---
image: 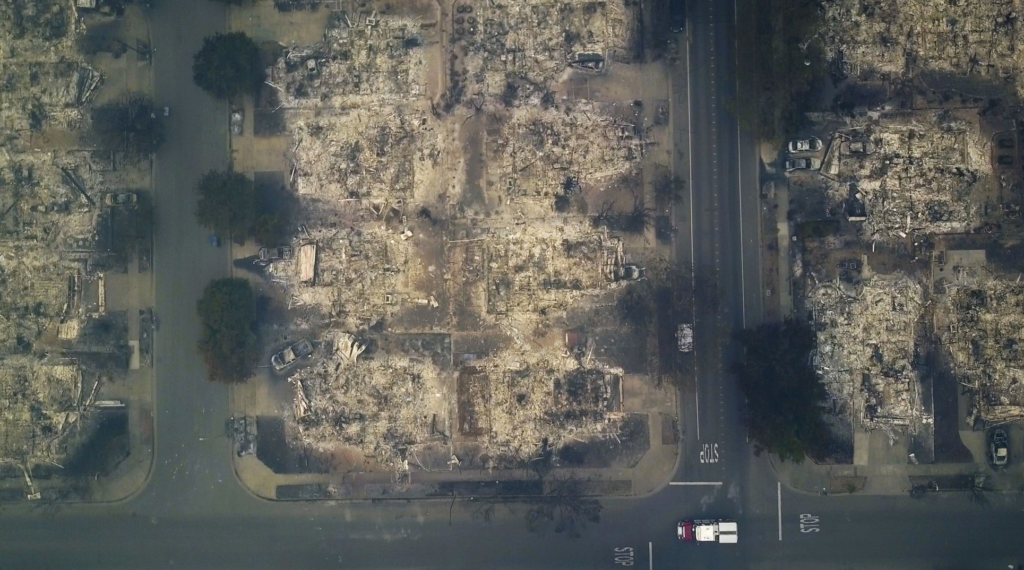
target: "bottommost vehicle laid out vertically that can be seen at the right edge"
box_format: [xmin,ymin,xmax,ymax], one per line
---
[993,429,1011,470]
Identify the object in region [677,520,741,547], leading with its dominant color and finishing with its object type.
white truck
